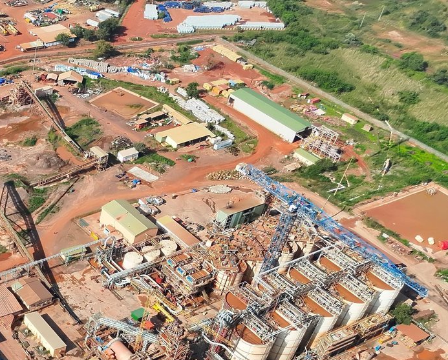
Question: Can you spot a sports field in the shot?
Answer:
No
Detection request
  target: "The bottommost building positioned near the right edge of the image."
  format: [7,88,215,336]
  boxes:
[400,326,435,348]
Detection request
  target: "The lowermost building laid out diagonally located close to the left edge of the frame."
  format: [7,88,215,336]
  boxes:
[22,310,68,358]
